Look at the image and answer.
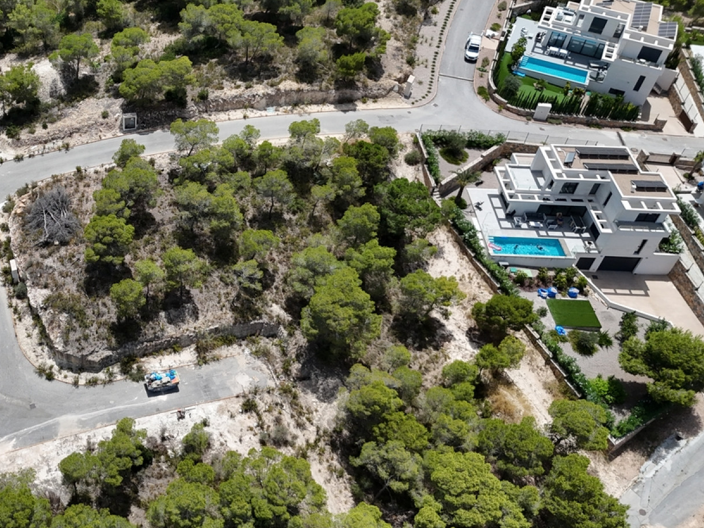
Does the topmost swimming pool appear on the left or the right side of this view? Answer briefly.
right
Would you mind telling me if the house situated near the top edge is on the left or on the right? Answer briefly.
right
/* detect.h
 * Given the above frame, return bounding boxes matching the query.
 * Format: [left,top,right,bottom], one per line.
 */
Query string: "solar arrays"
[658,23,676,39]
[630,183,668,191]
[581,165,638,172]
[632,3,651,30]
[574,150,630,158]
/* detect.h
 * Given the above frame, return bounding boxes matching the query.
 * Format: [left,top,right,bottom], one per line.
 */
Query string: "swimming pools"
[515,54,591,96]
[483,233,575,272]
